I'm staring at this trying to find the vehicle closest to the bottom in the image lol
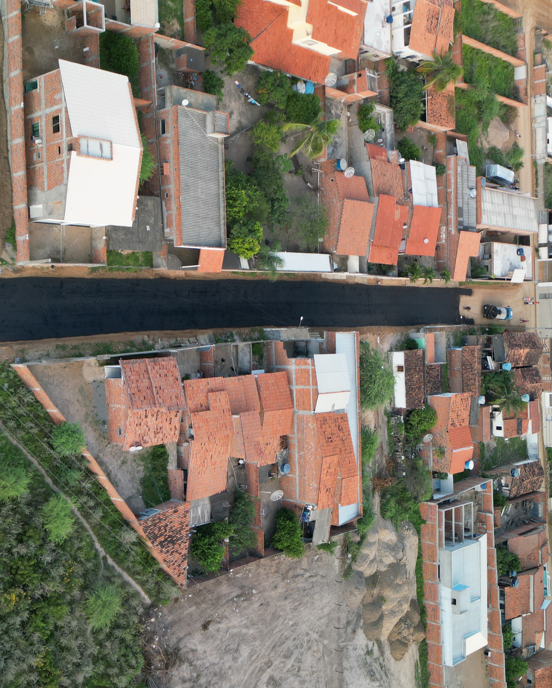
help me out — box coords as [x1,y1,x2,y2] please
[475,304,515,323]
